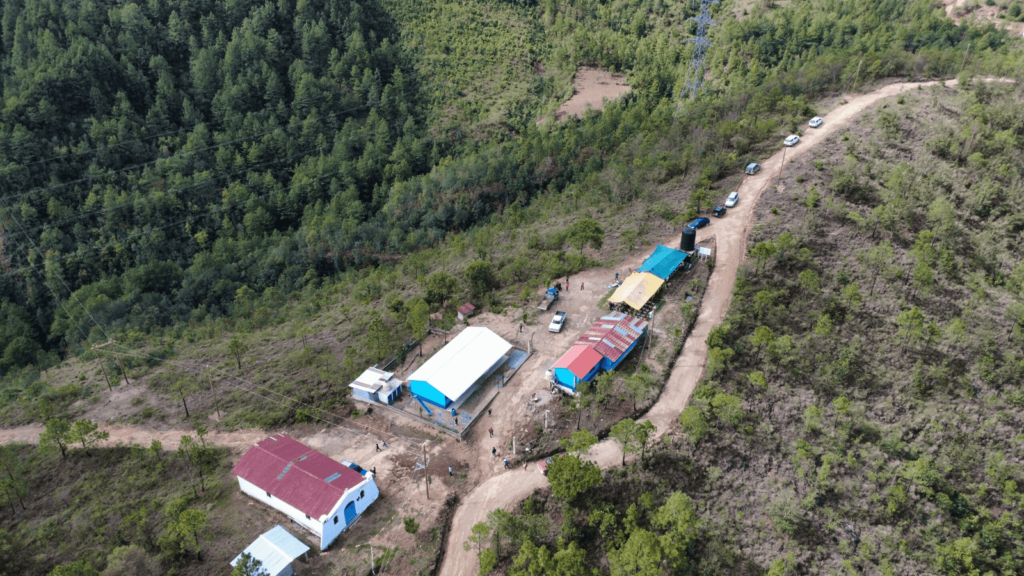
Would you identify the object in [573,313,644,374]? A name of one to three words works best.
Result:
building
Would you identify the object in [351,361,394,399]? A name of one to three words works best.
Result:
shed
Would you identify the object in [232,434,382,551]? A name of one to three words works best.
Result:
building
